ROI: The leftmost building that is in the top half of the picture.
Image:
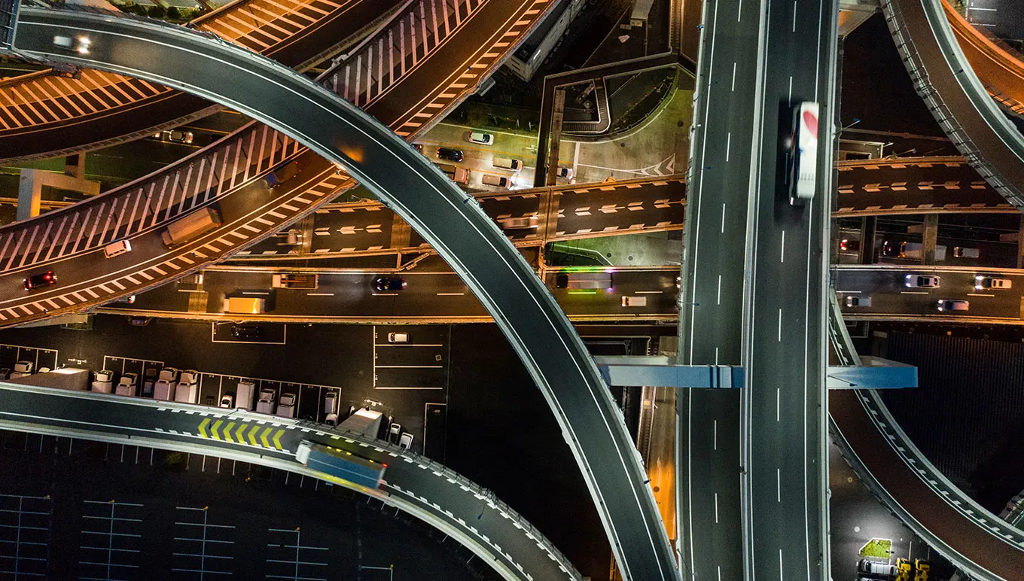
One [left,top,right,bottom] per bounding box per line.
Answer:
[508,0,584,81]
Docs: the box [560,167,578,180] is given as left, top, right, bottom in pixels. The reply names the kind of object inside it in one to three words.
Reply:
vehicle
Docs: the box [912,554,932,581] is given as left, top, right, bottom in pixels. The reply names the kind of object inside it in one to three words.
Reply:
work vehicle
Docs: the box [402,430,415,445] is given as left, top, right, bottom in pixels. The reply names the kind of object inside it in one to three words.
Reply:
vehicle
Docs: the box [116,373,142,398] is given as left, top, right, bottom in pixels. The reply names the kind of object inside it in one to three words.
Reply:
truck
